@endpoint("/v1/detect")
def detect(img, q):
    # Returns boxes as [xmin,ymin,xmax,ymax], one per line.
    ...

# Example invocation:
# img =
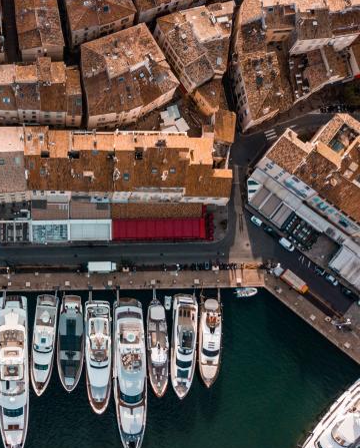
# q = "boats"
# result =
[112,292,149,448]
[56,290,85,399]
[194,290,225,395]
[31,288,58,404]
[0,291,29,448]
[233,288,257,298]
[302,381,360,448]
[82,292,114,422]
[164,294,171,310]
[142,292,169,403]
[168,287,200,406]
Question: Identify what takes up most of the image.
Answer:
buildings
